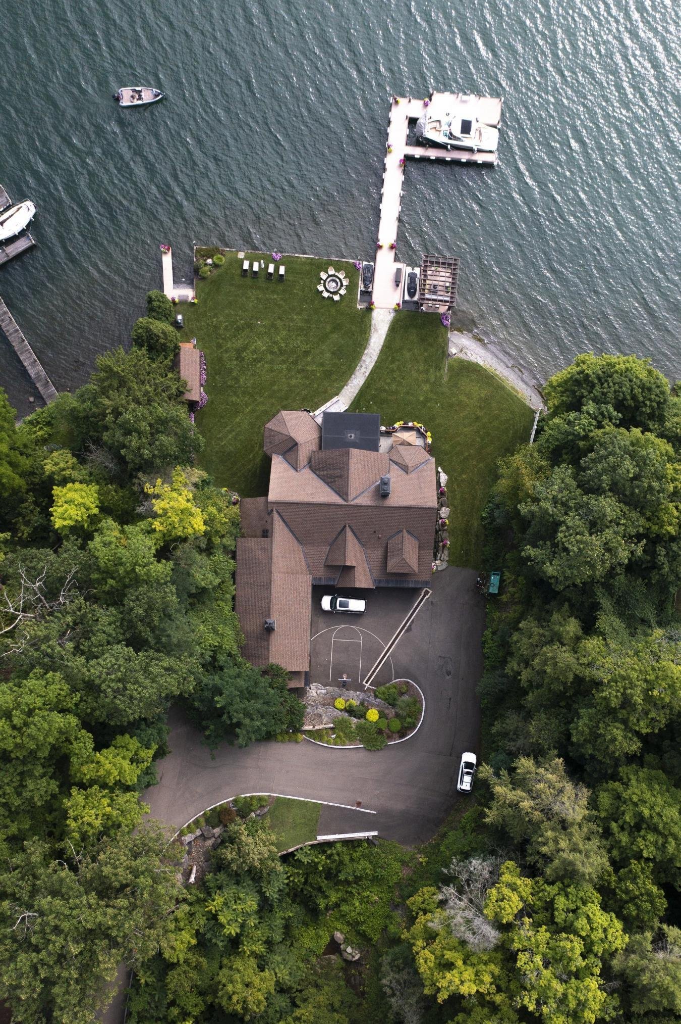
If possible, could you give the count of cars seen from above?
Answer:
2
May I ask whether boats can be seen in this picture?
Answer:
Yes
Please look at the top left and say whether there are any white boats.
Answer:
Yes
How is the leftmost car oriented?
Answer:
from side to side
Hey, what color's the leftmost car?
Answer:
white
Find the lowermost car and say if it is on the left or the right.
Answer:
right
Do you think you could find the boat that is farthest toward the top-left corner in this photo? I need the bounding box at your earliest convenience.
[113,84,164,103]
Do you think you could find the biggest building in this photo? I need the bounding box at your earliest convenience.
[235,410,439,687]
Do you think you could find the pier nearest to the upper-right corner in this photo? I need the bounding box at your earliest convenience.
[371,92,504,310]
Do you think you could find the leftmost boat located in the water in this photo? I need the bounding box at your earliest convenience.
[0,193,35,237]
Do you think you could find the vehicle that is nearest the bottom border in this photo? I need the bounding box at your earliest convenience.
[457,753,480,795]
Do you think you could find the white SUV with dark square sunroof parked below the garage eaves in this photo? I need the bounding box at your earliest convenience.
[321,594,367,616]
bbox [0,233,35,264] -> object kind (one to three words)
pier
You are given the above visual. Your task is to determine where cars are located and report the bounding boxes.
[321,594,367,616]
[457,753,480,795]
